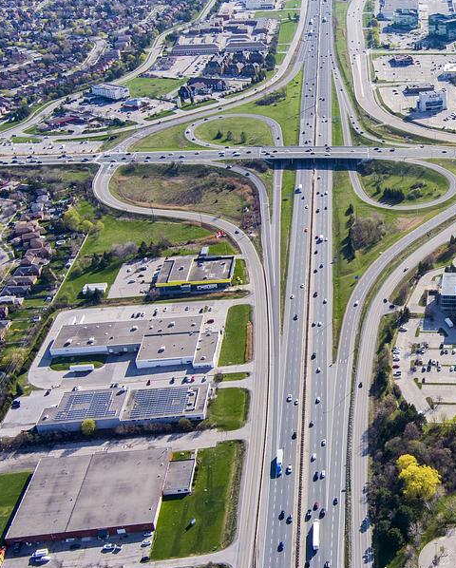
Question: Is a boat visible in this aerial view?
No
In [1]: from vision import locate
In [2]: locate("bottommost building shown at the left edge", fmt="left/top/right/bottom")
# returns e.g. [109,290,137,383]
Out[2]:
[6,449,173,547]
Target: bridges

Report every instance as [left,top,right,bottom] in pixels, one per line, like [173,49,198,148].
[260,144,372,170]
